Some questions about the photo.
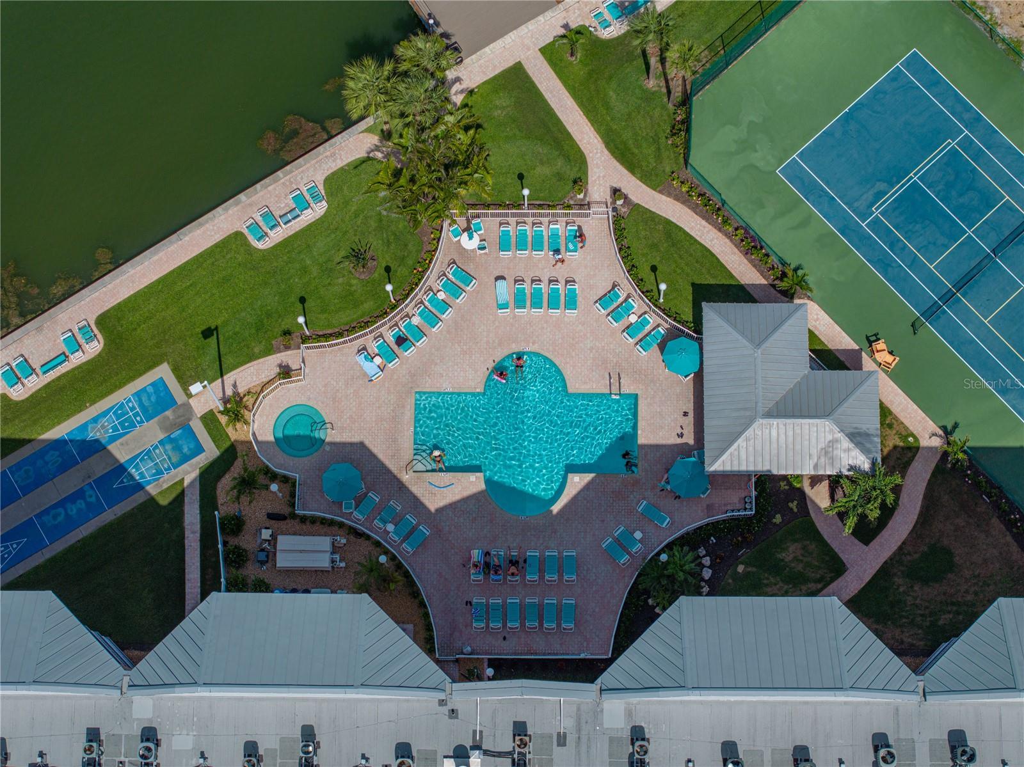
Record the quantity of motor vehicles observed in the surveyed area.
0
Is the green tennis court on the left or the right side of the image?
right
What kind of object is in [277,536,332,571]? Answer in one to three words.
shed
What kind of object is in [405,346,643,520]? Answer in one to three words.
swimming pool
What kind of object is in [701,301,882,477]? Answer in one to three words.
building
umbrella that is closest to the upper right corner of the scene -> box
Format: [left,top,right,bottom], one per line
[662,340,699,376]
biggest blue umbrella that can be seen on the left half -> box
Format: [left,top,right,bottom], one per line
[323,463,363,503]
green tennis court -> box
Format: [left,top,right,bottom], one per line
[688,0,1024,510]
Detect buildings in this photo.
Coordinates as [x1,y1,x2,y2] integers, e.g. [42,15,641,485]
[277,536,332,571]
[701,301,882,477]
[0,591,1024,767]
